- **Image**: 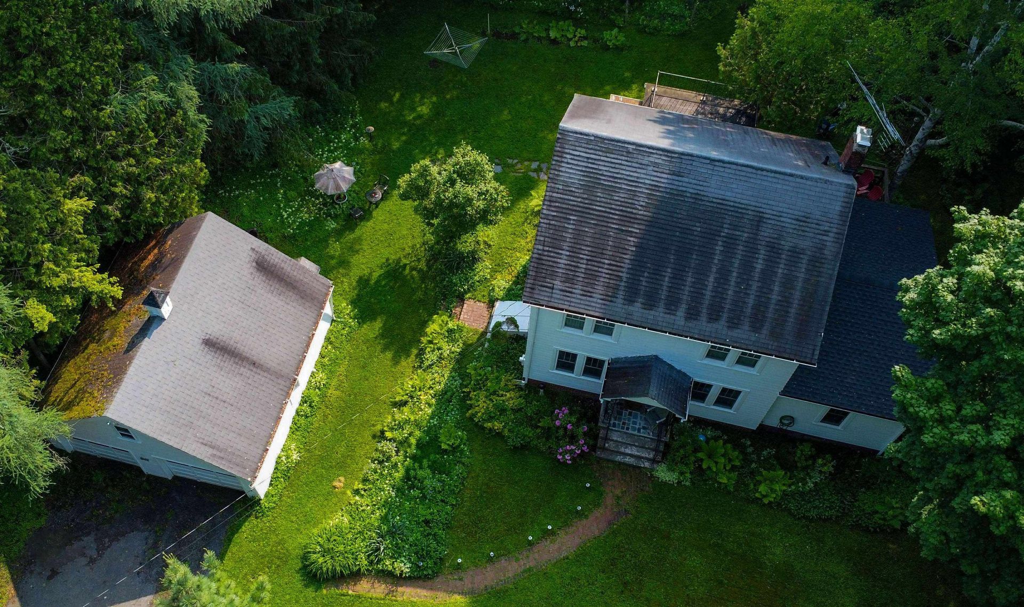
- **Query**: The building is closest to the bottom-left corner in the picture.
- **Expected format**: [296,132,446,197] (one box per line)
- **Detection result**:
[24,212,341,501]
